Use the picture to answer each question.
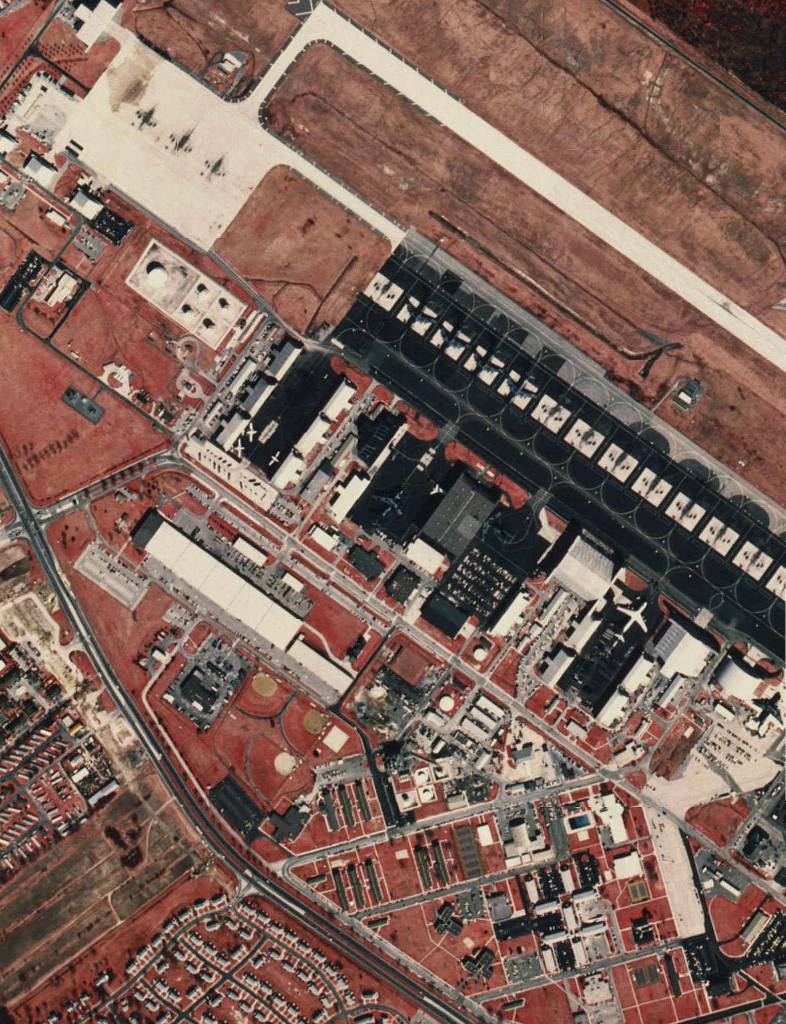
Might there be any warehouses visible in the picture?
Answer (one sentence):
Yes, there is a warehouse in the image.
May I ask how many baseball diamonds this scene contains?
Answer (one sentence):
There are 3 baseball diamonds in the image.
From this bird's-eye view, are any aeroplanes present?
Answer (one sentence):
Yes, there's an aeroplane here.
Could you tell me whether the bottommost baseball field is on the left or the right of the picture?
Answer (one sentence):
It is on the left.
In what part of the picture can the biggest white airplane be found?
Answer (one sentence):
You can find the biggest white airplane in the right area of the picture.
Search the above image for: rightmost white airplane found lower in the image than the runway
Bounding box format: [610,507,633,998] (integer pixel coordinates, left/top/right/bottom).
[616,598,648,638]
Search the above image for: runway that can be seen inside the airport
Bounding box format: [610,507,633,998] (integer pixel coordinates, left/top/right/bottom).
[301,2,786,371]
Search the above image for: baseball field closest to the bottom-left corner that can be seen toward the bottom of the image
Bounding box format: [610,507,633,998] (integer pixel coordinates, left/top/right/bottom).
[246,731,304,804]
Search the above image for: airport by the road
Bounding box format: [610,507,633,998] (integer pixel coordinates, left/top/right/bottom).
[2,0,786,739]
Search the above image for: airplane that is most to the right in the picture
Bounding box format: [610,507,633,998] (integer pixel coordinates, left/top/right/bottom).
[751,690,783,729]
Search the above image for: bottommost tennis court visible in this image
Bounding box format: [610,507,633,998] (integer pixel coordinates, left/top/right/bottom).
[632,964,662,988]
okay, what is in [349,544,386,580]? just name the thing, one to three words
building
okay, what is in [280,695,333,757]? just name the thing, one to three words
baseball field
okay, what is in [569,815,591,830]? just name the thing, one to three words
swimming pool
